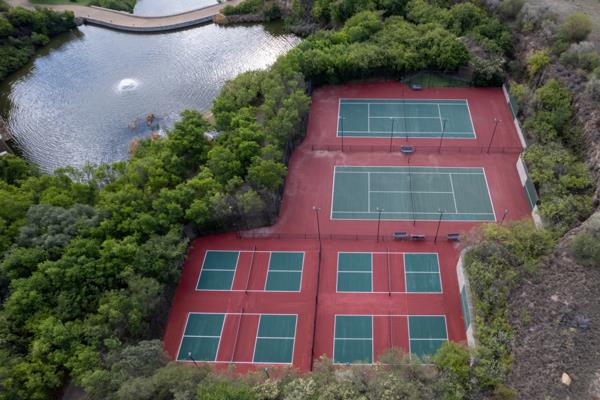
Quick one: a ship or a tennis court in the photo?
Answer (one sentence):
Visible in the photo is a tennis court.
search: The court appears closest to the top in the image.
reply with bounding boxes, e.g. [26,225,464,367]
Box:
[337,99,476,138]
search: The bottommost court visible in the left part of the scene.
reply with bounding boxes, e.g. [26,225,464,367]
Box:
[176,313,297,363]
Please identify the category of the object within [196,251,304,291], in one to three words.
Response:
sports court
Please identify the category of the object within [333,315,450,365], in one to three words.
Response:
sports court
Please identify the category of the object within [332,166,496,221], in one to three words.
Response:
tennis court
